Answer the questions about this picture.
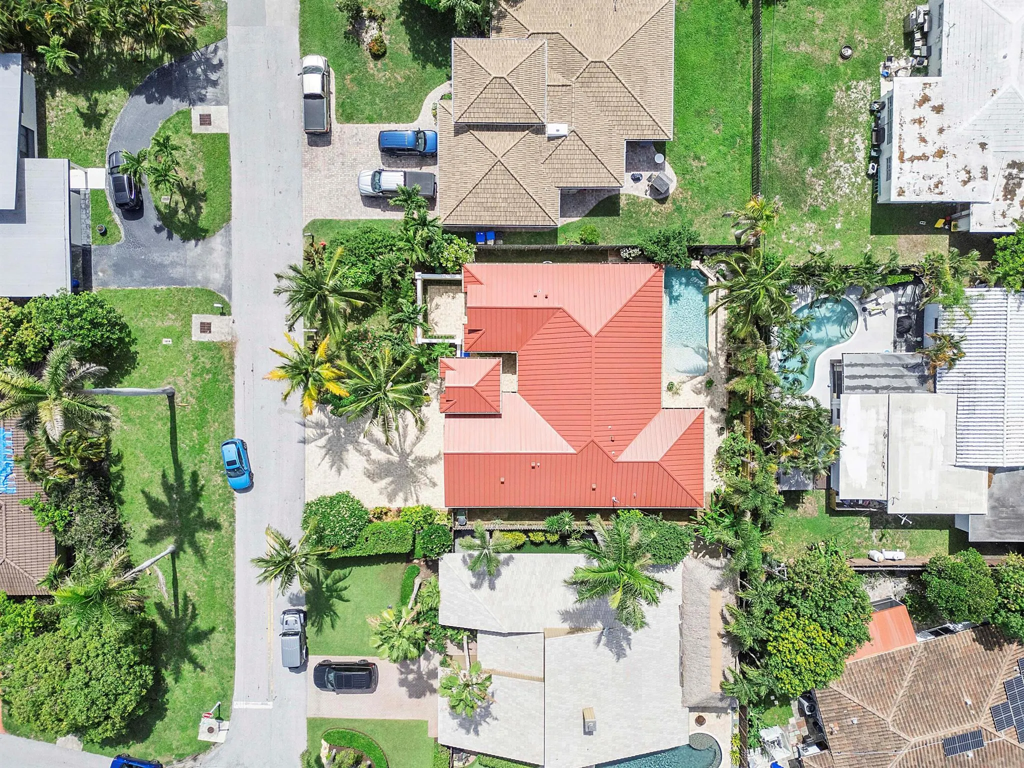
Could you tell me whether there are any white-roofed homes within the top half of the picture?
Yes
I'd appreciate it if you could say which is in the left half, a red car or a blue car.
blue car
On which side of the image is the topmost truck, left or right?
left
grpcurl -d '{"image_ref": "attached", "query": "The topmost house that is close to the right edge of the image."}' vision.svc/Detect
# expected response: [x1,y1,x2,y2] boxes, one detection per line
[879,0,1024,234]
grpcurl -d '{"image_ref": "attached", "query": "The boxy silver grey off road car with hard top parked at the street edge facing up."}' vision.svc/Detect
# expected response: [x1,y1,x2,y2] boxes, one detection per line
[277,606,310,674]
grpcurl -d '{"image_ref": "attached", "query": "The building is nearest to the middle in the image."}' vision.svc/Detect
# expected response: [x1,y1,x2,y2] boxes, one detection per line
[438,261,706,510]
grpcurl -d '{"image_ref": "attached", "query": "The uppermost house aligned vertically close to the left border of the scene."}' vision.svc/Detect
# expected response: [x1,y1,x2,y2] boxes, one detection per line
[0,53,106,297]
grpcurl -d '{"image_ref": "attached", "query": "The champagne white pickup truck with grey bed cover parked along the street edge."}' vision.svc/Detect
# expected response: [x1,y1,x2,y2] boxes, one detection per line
[298,55,332,136]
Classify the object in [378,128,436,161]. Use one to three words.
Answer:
car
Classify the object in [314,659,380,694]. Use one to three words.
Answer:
car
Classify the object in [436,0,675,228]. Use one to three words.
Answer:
house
